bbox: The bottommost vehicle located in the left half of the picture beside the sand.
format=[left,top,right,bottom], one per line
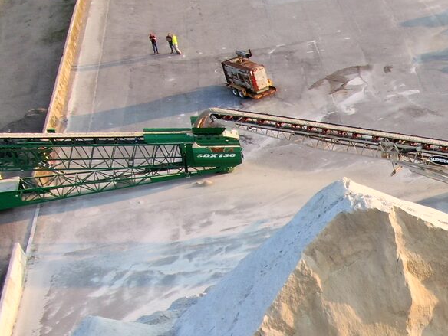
[0,116,249,222]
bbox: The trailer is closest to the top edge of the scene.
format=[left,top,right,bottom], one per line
[216,41,273,93]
